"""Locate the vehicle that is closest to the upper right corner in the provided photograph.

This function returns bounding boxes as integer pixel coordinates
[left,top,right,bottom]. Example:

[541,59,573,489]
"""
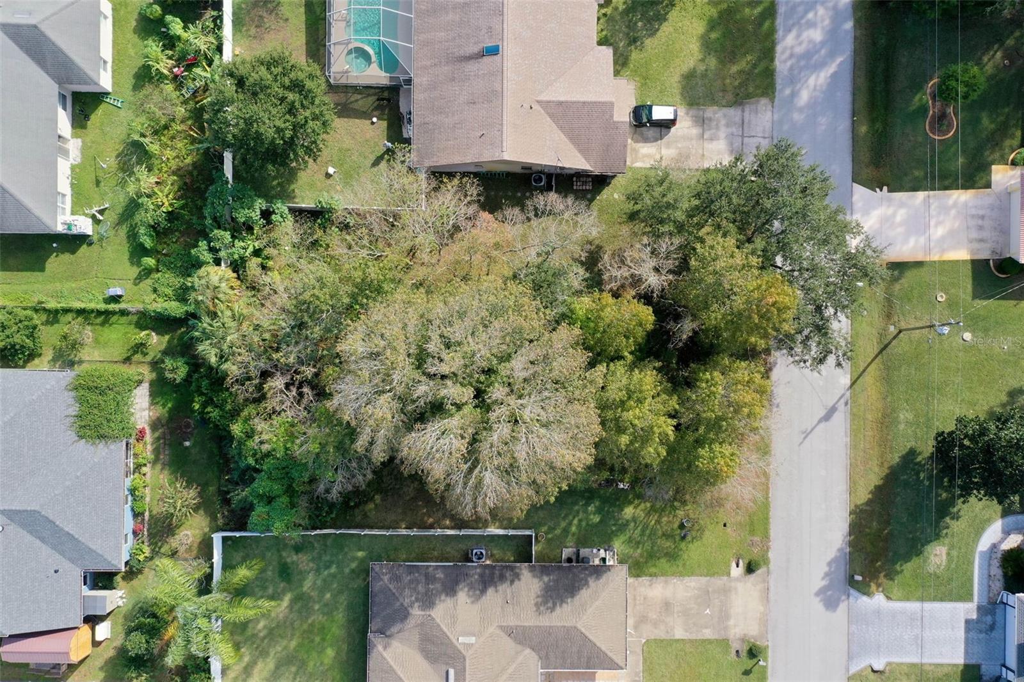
[629,102,678,129]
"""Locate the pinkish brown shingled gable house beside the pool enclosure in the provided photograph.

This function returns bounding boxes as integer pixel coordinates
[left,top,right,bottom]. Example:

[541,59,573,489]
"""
[412,0,629,174]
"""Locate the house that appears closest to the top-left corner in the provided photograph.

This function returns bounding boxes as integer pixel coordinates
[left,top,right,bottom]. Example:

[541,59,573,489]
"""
[0,0,112,234]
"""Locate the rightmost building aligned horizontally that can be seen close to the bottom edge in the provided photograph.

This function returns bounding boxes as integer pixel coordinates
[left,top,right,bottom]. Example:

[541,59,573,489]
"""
[367,562,629,682]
